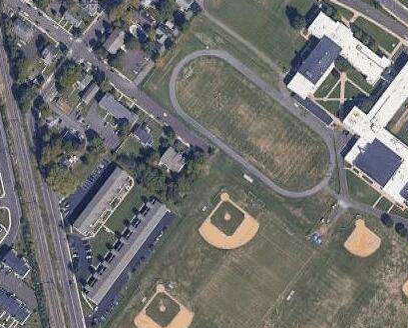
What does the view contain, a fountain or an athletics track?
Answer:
athletics track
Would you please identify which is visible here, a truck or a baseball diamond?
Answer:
baseball diamond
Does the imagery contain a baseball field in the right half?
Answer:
Yes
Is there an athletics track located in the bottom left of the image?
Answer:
No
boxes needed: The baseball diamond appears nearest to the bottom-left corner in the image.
[133,278,194,328]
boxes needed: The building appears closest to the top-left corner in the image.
[12,20,34,43]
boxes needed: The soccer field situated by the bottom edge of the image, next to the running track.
[204,232,309,328]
